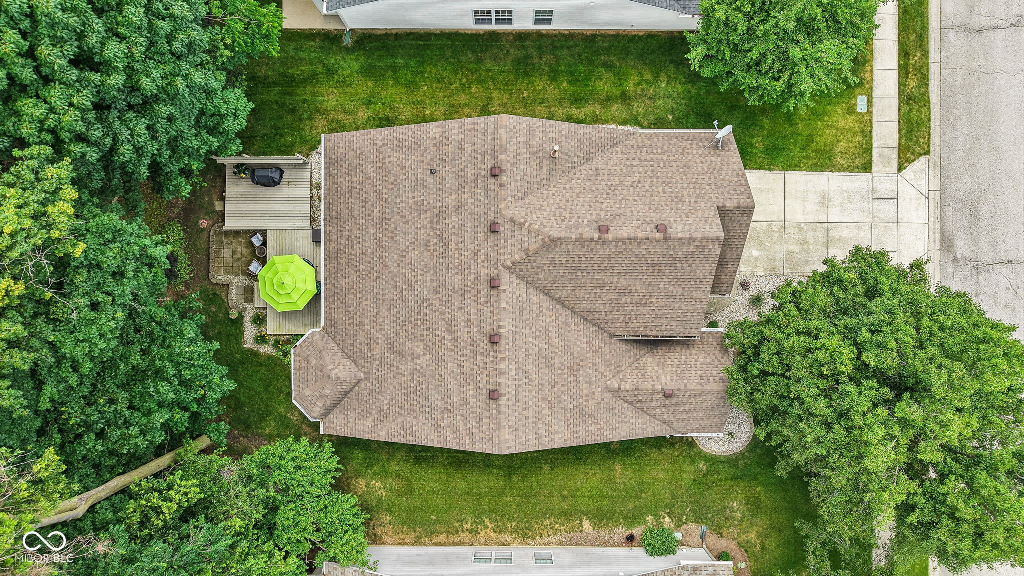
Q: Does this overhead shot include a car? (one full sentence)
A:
No, no car can be seen from above.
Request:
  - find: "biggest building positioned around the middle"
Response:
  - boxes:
[290,114,753,454]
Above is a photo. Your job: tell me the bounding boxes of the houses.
[290,114,753,454]
[322,0,736,36]
[322,526,736,576]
